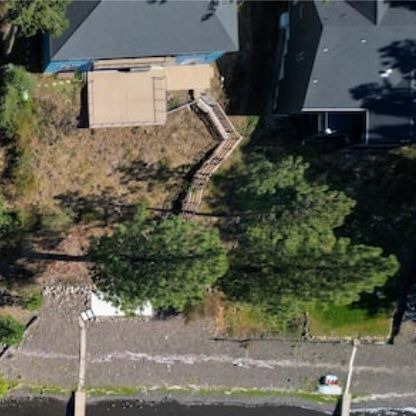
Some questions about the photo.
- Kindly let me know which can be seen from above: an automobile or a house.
house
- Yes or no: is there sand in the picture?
Yes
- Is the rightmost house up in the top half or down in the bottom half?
top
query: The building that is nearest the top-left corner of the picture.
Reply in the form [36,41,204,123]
[44,0,239,133]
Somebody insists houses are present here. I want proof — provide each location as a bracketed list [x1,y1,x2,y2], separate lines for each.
[275,0,416,150]
[44,0,239,133]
